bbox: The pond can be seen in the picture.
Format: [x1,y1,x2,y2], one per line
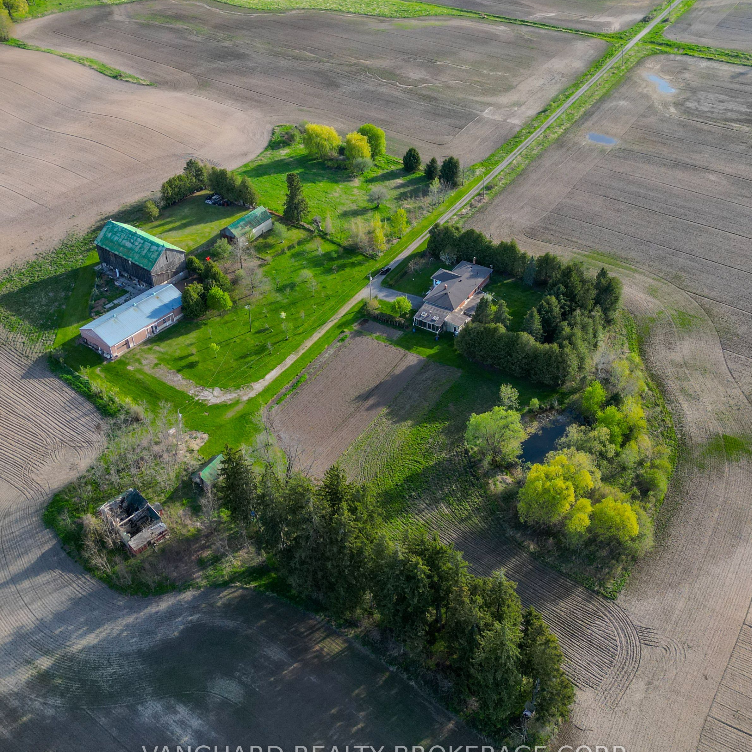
[514,408,594,466]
